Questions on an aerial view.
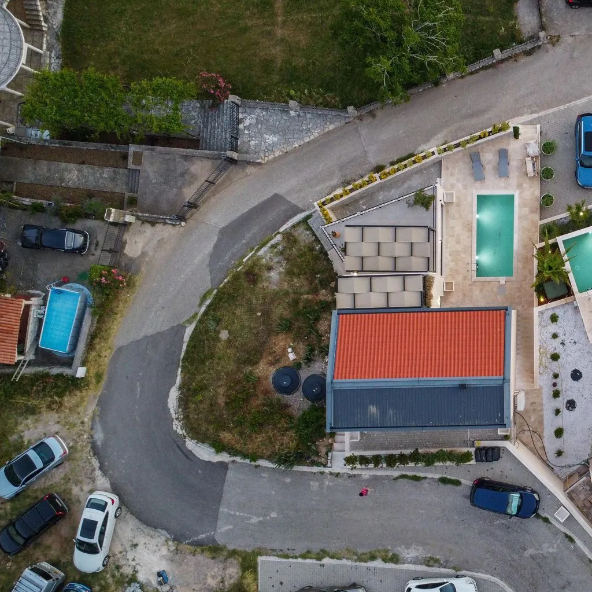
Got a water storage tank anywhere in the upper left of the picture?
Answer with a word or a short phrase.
No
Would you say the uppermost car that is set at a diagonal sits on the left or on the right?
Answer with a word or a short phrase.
left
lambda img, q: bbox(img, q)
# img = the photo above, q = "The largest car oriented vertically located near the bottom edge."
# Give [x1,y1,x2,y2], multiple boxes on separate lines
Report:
[74,490,125,571]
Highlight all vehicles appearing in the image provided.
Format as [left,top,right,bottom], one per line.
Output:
[74,490,125,571]
[469,479,541,522]
[564,0,592,10]
[20,221,98,257]
[0,492,73,553]
[14,559,68,592]
[0,435,74,493]
[301,582,370,592]
[572,113,592,190]
[404,572,479,592]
